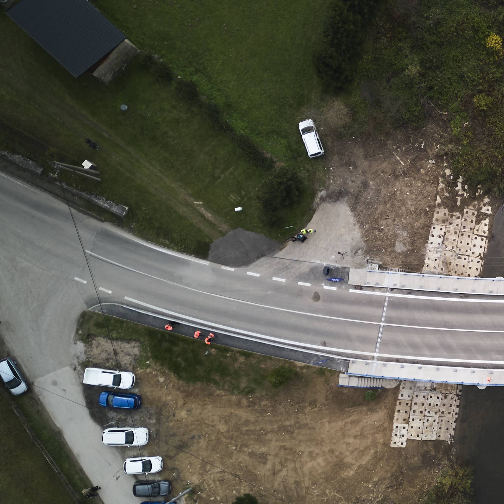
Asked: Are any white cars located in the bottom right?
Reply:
No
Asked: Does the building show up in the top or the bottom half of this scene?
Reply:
top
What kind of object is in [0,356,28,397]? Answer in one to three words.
car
